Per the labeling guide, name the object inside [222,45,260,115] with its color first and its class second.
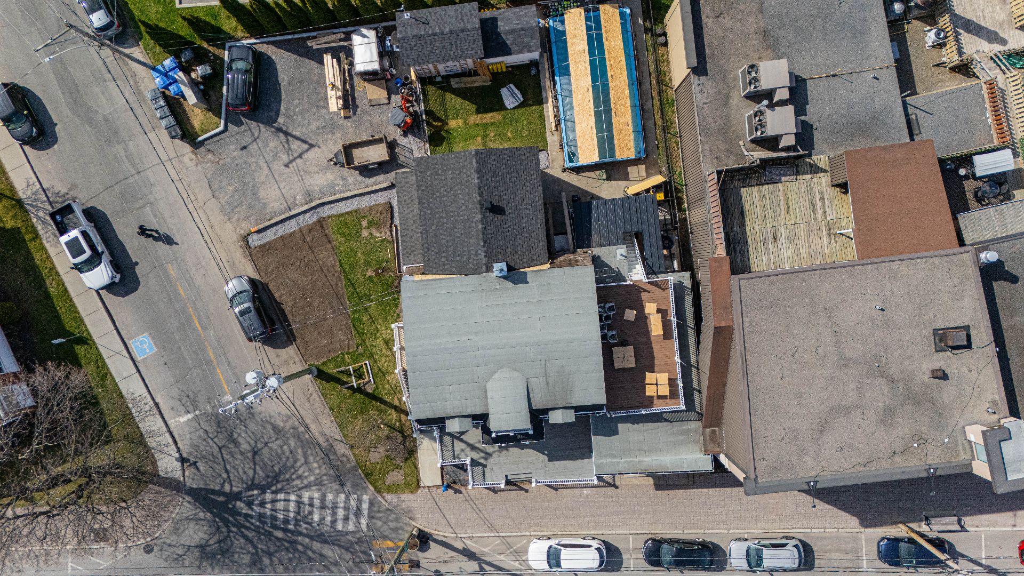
black car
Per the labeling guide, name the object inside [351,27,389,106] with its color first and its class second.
white trailer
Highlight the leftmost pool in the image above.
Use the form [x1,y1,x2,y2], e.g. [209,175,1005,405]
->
[547,7,647,170]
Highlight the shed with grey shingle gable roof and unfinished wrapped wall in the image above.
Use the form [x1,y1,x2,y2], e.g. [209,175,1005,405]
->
[396,2,484,81]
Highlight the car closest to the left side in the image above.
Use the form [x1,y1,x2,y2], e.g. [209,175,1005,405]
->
[0,69,42,146]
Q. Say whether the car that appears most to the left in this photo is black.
Yes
